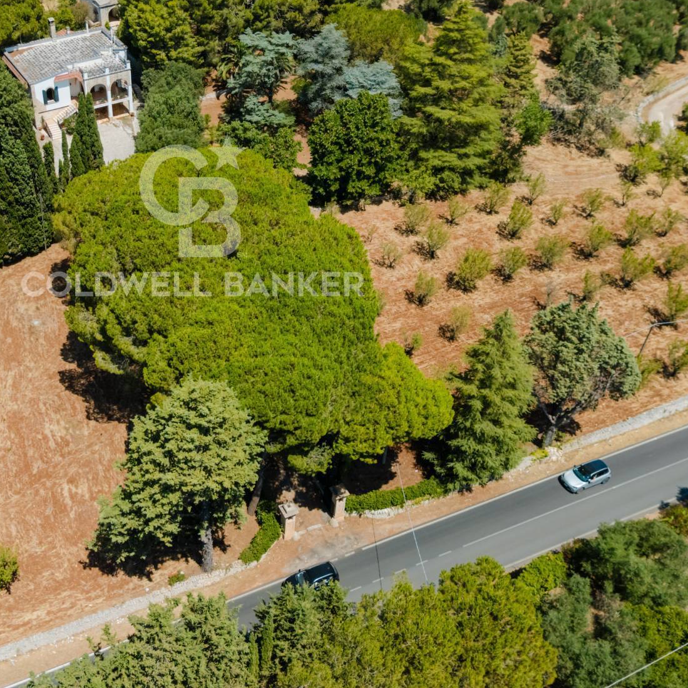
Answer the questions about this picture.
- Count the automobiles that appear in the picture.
2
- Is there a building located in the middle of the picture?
No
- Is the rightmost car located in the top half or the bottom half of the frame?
bottom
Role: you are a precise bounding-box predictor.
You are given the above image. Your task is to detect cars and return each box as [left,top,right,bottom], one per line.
[277,559,342,598]
[558,458,615,494]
